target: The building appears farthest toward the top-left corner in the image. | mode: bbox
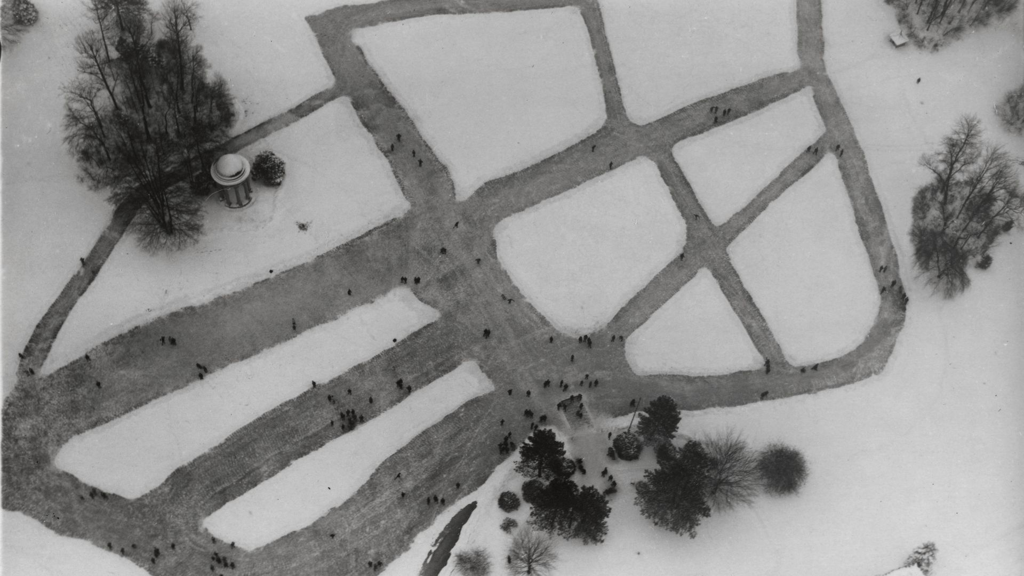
[208,154,255,210]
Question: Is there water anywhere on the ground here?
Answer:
Yes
